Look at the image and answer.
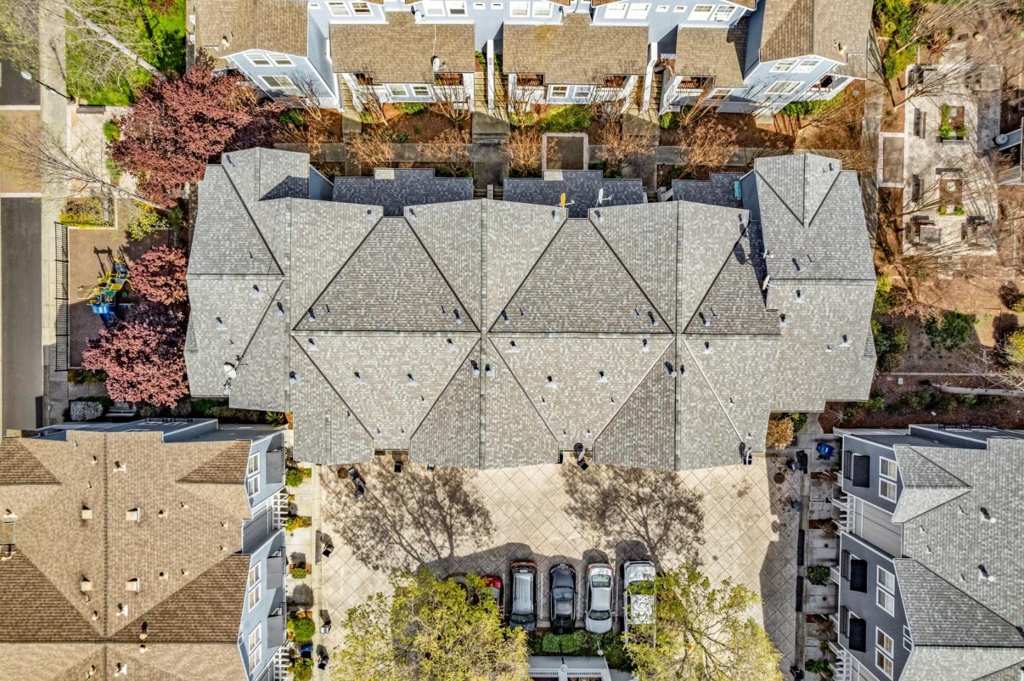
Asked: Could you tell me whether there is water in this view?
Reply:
No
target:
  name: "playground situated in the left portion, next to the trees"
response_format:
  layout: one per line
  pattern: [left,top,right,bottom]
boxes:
[86,259,143,322]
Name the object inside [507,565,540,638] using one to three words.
car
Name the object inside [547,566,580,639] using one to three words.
car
